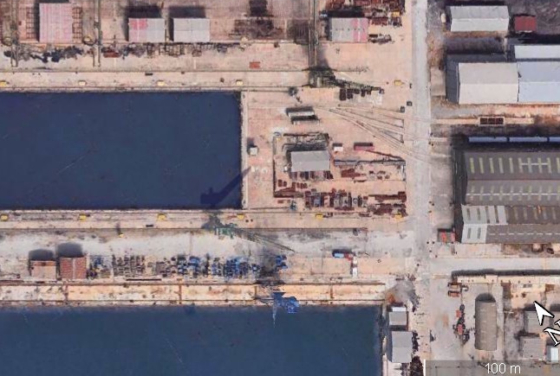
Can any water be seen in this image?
Yes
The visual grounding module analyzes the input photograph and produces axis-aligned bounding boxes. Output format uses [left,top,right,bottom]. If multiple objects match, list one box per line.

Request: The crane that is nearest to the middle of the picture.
[213,217,296,252]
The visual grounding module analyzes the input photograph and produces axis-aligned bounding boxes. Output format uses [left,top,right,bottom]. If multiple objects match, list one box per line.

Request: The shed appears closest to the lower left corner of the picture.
[31,261,56,279]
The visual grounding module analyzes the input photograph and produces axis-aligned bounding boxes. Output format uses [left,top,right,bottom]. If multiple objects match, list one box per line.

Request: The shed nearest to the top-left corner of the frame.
[40,3,72,42]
